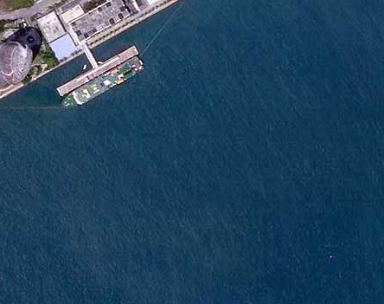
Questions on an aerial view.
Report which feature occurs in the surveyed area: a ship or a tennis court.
ship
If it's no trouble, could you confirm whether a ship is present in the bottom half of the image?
No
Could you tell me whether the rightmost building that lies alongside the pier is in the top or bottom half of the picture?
top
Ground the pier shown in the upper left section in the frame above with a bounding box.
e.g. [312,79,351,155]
[58,46,138,96]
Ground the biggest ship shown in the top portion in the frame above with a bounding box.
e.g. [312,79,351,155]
[63,58,143,105]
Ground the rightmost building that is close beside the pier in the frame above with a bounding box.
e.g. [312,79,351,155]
[69,0,130,43]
